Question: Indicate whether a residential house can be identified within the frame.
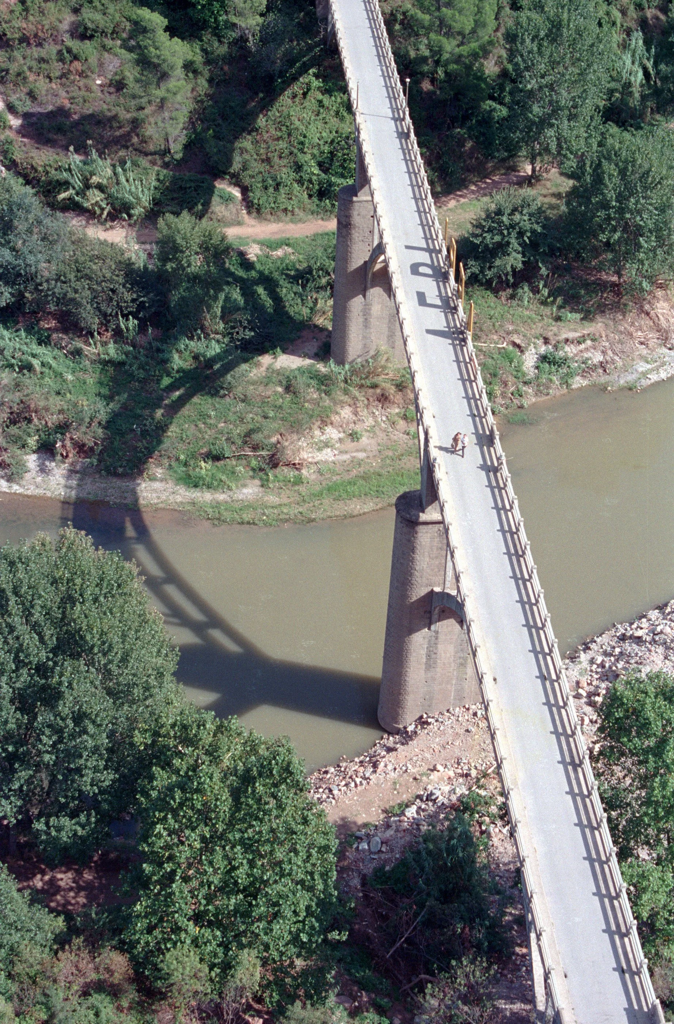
No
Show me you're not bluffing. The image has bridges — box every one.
[300,0,668,1024]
